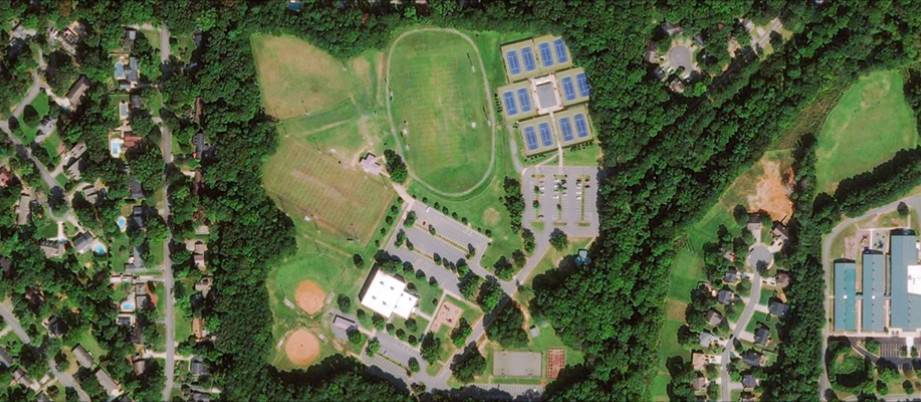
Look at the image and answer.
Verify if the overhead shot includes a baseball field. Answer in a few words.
Yes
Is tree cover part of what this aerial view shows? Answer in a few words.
Yes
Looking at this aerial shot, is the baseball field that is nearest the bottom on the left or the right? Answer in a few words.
left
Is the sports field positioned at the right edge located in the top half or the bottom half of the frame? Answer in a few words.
top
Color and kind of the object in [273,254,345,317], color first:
green baseball field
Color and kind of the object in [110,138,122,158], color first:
white swimming pool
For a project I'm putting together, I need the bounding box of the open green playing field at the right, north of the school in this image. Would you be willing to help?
[813,70,918,193]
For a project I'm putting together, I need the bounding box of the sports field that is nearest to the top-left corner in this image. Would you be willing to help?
[251,34,353,119]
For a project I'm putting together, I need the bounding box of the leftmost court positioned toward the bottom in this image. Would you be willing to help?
[493,351,541,376]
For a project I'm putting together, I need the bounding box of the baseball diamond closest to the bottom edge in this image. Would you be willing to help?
[275,326,327,368]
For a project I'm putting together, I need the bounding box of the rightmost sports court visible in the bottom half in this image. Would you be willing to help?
[548,348,565,379]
